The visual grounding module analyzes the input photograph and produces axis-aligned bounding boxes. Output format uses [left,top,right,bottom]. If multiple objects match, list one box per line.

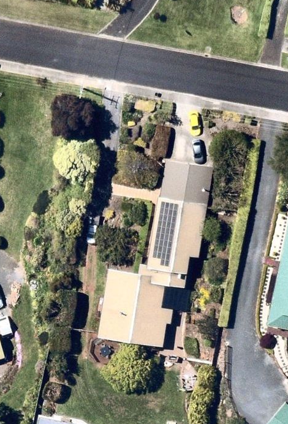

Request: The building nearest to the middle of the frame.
[98,160,212,347]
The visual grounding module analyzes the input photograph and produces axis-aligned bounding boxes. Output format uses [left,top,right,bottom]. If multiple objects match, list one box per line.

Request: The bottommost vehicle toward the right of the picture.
[192,138,205,164]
